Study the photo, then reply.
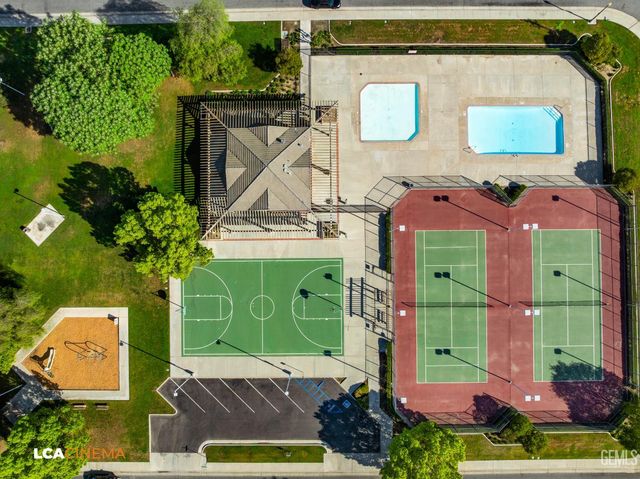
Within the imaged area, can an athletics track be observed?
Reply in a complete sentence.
No, there is no athletics track in the image.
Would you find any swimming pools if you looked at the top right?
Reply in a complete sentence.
Yes, a swimming pool appears at the top right.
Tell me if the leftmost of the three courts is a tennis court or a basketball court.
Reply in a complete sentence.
From above, the leftmost of the three courts can be identified as a basketball court.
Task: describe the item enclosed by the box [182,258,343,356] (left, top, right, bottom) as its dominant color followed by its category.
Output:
green basketball court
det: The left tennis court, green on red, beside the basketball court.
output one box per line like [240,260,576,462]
[392,188,511,426]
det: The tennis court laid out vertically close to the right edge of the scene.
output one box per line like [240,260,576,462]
[509,187,625,425]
